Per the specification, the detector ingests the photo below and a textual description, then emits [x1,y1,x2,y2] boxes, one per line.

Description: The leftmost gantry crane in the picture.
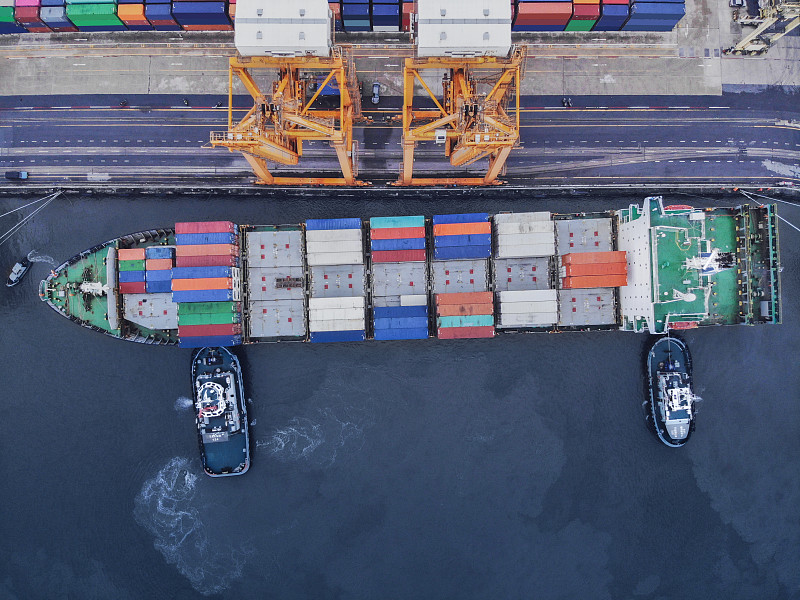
[208,0,370,184]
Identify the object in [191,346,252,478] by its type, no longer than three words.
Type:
boat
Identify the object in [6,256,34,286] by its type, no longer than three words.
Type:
boat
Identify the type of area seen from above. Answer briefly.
port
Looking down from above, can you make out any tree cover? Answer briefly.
No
